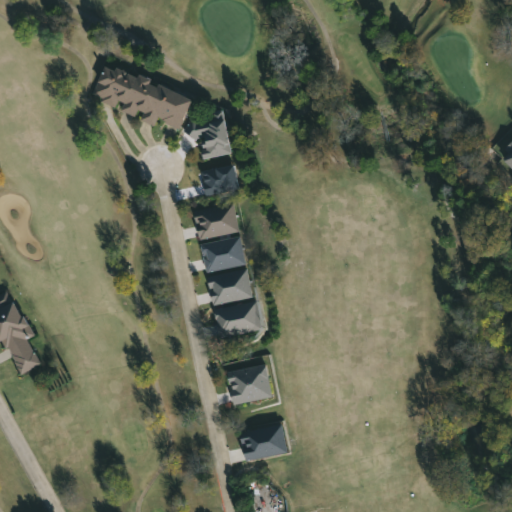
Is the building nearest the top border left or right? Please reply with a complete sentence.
It is on the left.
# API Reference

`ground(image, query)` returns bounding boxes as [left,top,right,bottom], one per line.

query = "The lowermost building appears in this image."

[240,421,289,461]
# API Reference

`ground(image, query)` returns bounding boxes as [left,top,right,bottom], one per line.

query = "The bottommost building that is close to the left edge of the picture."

[0,288,42,374]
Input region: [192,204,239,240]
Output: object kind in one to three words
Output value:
house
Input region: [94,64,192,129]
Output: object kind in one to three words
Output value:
building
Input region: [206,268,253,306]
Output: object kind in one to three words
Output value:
house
